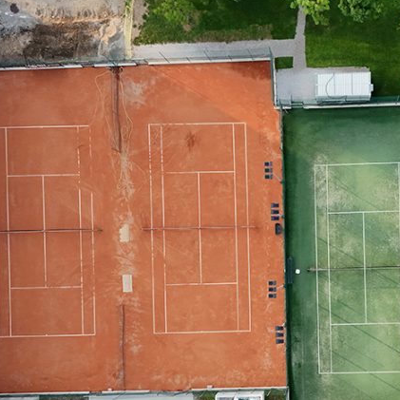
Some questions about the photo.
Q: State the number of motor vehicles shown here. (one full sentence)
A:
The count of motor vehicles is 0.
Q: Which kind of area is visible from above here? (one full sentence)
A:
The picture captures a sports ground.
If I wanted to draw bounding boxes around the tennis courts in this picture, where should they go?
[0,64,122,393]
[283,105,400,400]
[117,60,287,390]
